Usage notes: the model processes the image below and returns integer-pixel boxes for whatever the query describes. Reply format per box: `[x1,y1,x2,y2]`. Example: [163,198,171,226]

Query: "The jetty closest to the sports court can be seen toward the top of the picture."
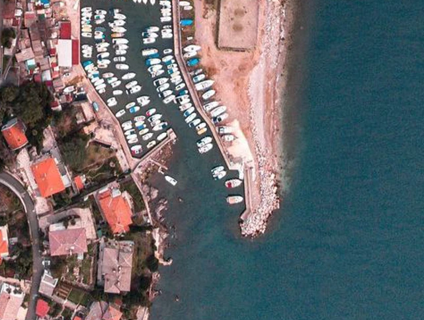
[173,0,234,171]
